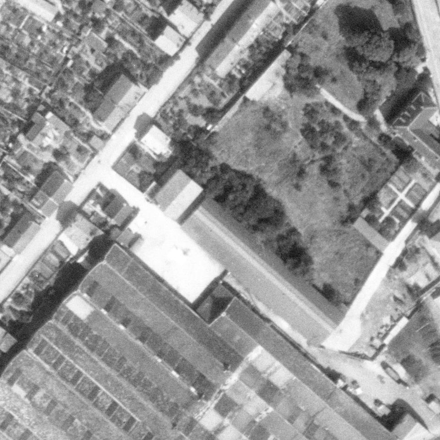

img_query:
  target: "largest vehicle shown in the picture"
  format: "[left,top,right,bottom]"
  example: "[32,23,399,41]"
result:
[383,366,402,384]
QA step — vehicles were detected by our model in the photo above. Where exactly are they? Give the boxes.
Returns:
[375,404,389,416]
[383,366,402,384]
[351,386,361,395]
